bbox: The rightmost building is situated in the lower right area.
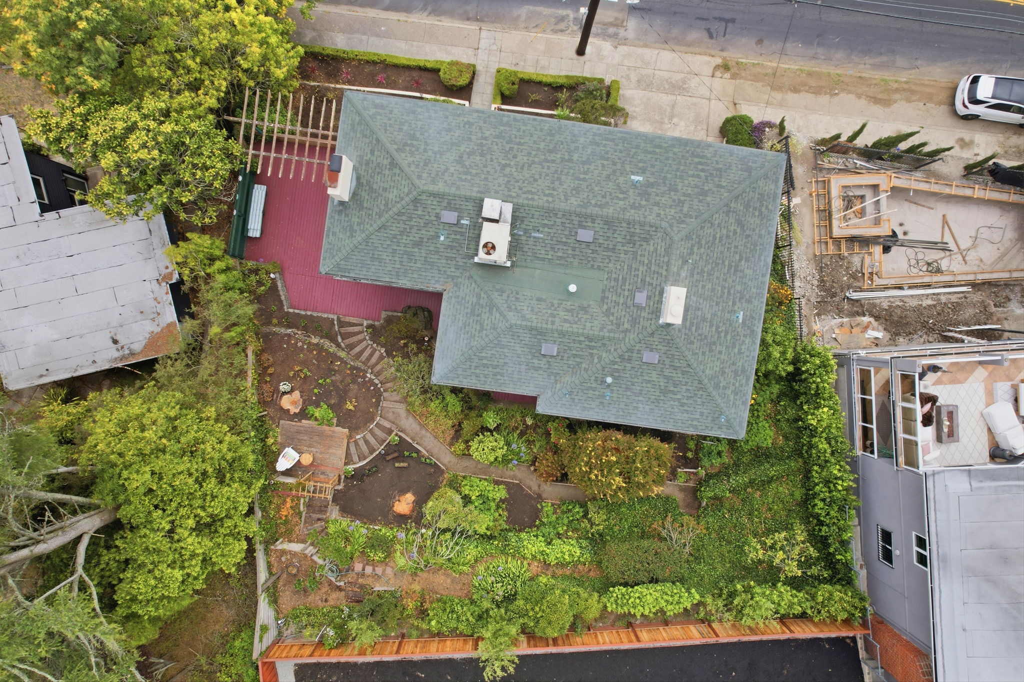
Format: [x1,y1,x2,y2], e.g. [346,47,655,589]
[866,456,1024,682]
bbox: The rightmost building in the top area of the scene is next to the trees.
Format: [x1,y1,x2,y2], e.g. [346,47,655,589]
[316,87,789,442]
